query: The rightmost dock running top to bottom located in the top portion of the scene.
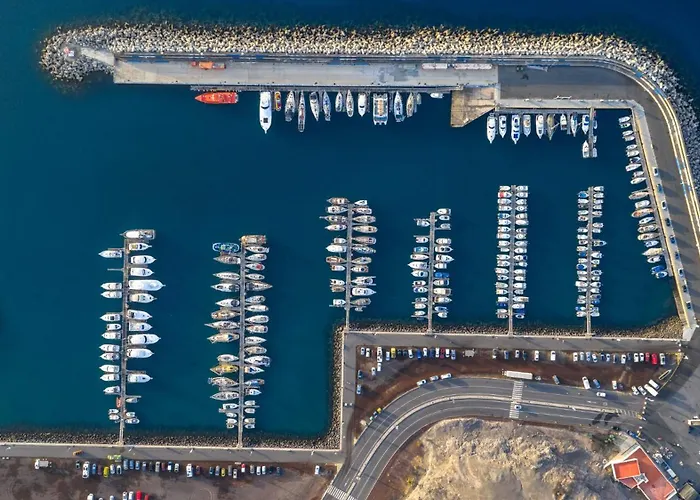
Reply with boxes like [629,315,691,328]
[621,111,671,276]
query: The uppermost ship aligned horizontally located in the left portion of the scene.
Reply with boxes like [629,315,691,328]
[193,92,241,104]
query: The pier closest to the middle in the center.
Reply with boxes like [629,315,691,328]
[328,203,369,333]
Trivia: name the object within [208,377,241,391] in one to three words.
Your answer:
boat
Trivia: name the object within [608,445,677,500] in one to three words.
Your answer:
building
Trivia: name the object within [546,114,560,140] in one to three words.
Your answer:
boat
